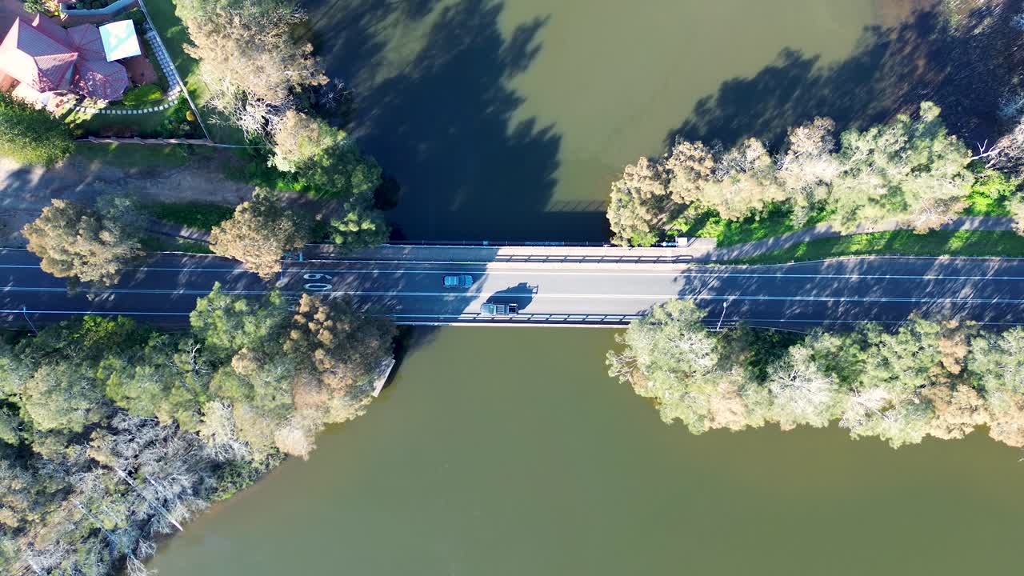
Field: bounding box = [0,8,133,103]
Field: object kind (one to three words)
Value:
house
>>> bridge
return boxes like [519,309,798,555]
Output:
[282,239,728,330]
